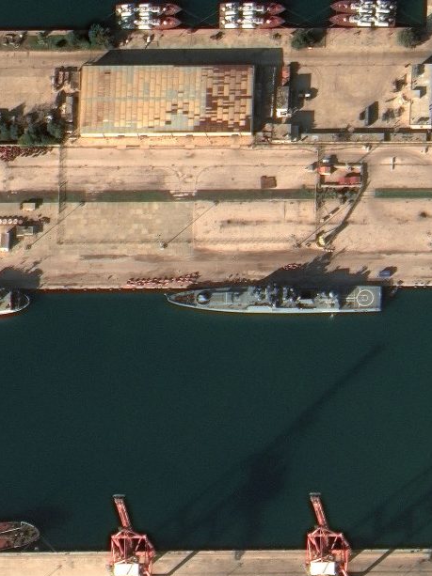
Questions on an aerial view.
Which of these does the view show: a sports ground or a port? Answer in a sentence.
It's a port.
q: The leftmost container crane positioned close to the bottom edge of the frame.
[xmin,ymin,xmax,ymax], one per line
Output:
[108,498,160,576]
